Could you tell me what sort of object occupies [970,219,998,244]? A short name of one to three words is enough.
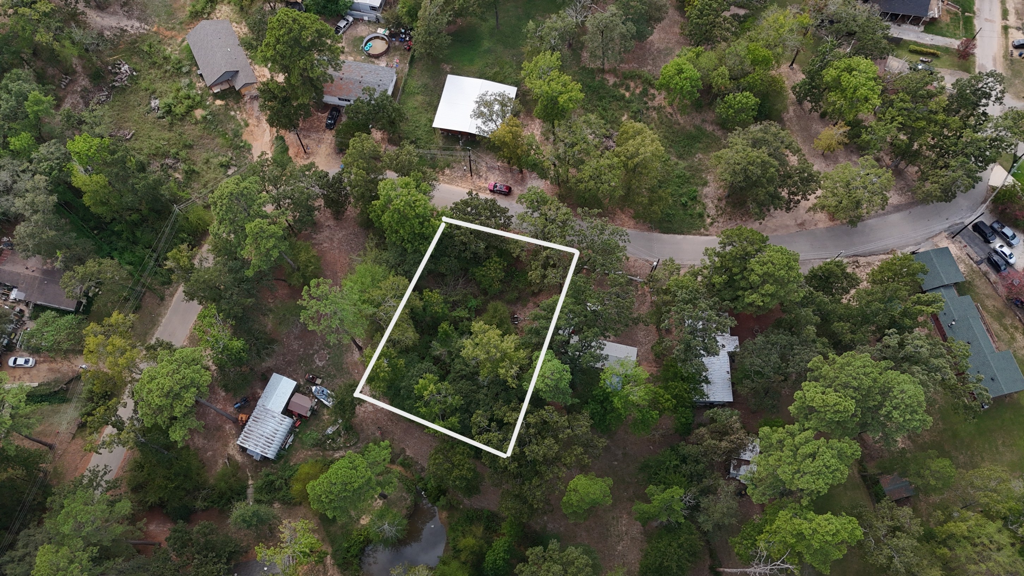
car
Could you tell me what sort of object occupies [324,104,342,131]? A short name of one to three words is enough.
vehicle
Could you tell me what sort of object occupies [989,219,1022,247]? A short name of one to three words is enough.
truck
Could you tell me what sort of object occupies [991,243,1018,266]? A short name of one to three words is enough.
car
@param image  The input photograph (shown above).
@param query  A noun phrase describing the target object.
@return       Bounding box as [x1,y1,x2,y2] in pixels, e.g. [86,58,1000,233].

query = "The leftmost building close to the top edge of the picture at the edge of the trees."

[186,20,258,102]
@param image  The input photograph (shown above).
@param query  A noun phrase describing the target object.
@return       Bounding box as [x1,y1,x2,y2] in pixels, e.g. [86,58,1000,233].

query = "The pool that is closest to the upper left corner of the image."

[362,34,391,60]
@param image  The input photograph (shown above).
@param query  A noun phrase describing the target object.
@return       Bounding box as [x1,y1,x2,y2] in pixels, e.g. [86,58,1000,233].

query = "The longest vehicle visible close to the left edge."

[7,355,39,368]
